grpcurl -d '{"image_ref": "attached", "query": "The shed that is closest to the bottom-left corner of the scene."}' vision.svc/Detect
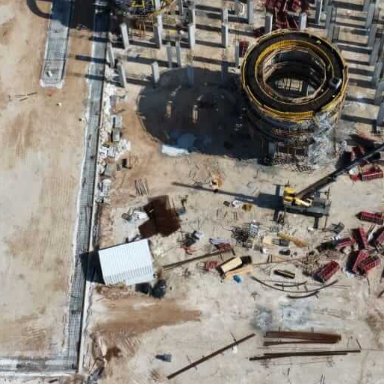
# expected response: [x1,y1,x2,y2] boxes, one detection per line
[102,243,154,289]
